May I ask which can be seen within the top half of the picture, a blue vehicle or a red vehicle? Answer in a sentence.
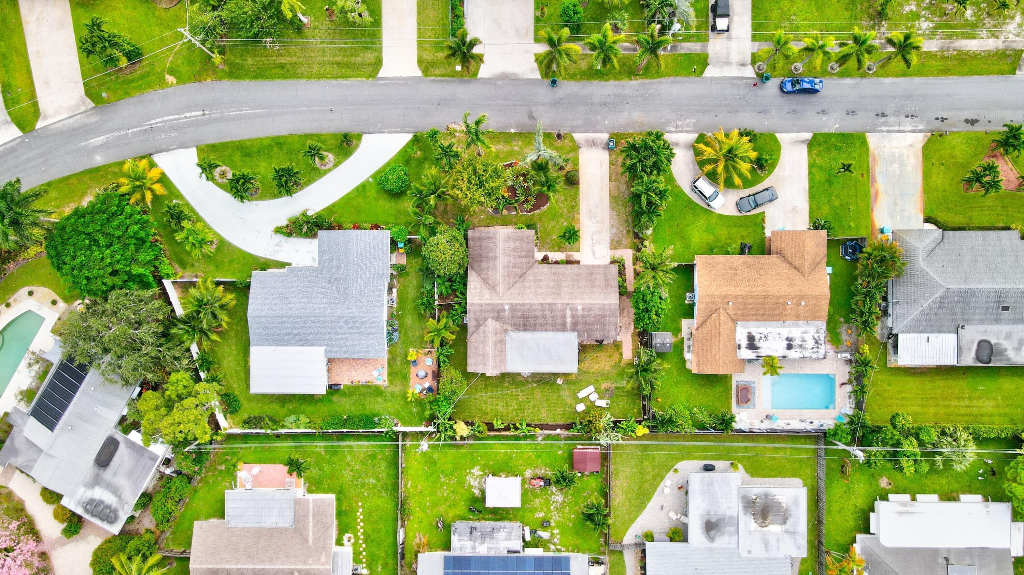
The feature located within the top half of the picture is a blue vehicle.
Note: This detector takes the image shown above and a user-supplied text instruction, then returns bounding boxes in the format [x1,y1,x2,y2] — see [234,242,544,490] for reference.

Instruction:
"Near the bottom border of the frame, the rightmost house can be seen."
[853,494,1024,575]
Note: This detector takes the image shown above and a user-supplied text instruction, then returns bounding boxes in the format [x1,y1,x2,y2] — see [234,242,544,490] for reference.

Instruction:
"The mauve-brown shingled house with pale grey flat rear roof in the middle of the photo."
[466,228,620,374]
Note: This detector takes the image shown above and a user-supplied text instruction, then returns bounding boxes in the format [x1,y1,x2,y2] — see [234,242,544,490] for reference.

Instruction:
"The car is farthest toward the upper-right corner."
[780,73,824,94]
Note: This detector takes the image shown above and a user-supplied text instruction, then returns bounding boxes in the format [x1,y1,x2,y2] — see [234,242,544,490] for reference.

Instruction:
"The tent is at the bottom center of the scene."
[486,473,521,508]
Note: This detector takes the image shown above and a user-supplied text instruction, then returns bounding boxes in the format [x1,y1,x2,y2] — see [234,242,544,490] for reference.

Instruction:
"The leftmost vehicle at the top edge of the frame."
[711,0,734,34]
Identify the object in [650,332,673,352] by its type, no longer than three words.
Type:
shed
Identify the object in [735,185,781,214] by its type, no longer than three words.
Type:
car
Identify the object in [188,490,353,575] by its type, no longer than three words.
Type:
house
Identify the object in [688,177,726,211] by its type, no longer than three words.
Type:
car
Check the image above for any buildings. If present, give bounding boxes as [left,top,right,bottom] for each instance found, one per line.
[0,341,166,536]
[645,472,807,575]
[573,443,601,472]
[884,229,1024,366]
[246,229,391,394]
[466,228,620,374]
[691,229,833,375]
[650,332,673,352]
[853,494,1024,575]
[188,490,353,575]
[417,521,589,575]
